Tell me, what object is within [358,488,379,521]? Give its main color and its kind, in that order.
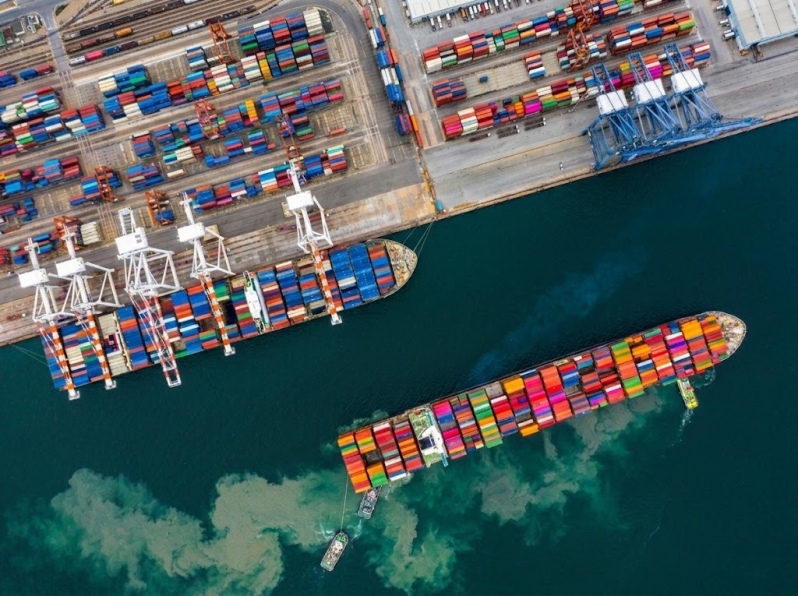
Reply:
gray boat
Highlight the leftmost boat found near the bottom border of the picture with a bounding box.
[320,533,345,572]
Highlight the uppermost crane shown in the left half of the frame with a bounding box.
[210,20,241,65]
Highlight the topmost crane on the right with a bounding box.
[555,0,595,44]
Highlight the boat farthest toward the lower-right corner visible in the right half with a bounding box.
[680,380,697,409]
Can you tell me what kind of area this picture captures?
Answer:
port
